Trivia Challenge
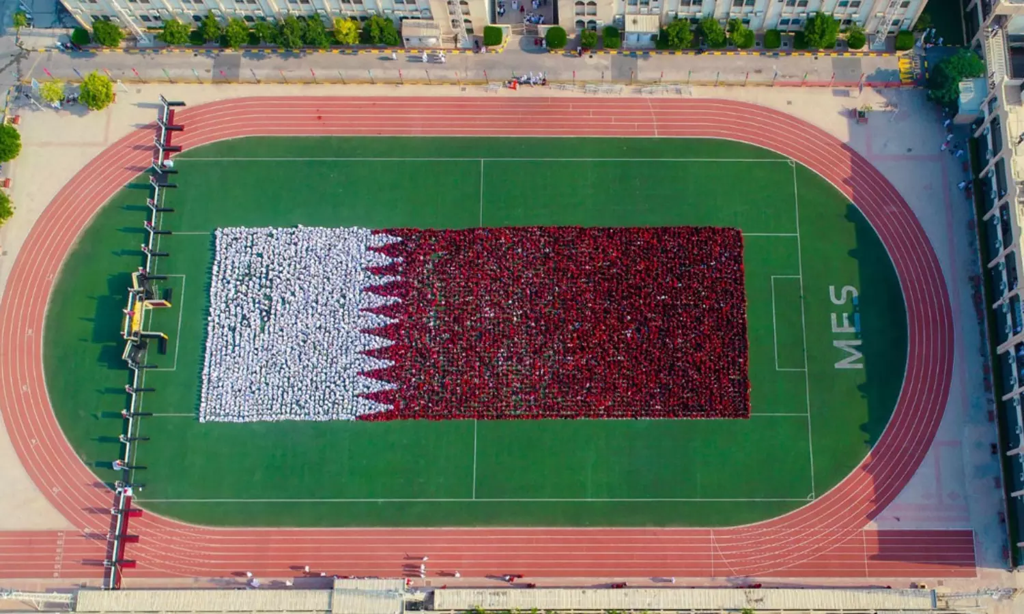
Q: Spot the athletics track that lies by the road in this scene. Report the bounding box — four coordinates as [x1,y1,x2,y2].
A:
[0,96,977,577]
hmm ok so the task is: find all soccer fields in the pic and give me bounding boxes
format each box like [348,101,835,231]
[43,137,907,527]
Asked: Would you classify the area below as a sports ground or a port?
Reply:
sports ground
